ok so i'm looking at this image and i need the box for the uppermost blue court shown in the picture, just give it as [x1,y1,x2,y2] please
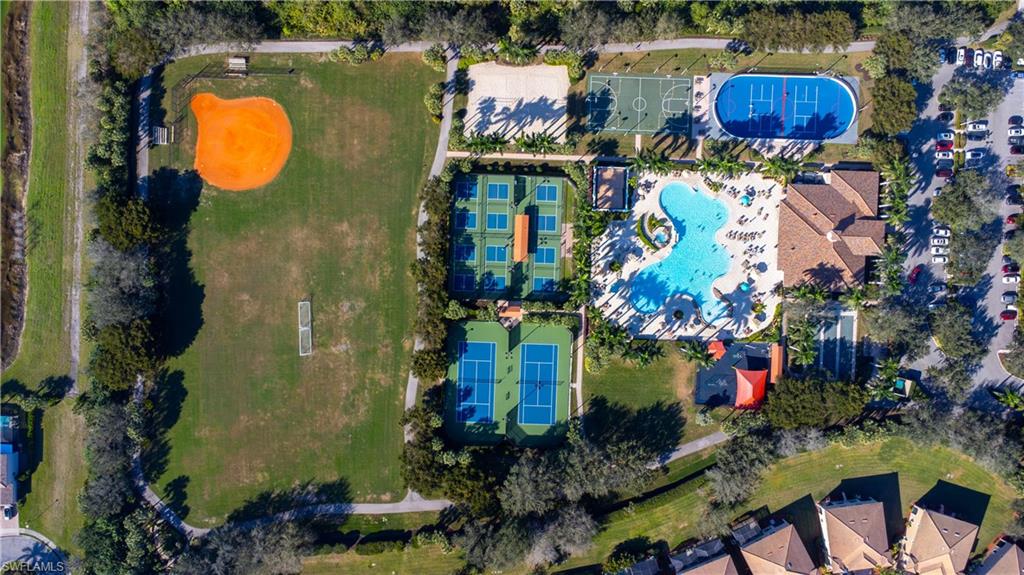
[705,73,860,144]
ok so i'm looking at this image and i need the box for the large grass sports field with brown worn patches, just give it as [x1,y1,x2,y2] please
[148,51,448,529]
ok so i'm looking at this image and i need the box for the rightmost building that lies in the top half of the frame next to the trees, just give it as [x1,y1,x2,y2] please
[777,170,885,288]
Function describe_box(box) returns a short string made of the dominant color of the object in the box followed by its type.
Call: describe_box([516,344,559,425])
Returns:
blue tennis court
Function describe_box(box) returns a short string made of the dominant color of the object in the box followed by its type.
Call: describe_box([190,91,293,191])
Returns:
orange baseball field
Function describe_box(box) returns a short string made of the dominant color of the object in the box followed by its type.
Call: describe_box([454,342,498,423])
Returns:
blue tennis court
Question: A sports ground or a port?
sports ground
